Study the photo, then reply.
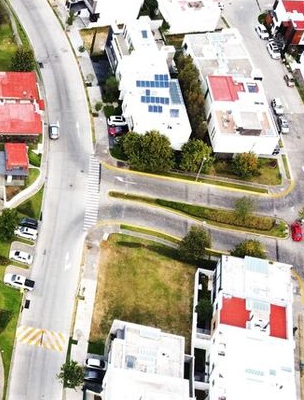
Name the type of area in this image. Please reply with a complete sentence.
This looks like a residential area.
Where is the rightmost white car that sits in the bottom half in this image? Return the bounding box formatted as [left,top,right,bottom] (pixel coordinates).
[83,356,103,370]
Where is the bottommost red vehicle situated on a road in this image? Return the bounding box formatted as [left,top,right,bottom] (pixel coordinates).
[290,222,302,241]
